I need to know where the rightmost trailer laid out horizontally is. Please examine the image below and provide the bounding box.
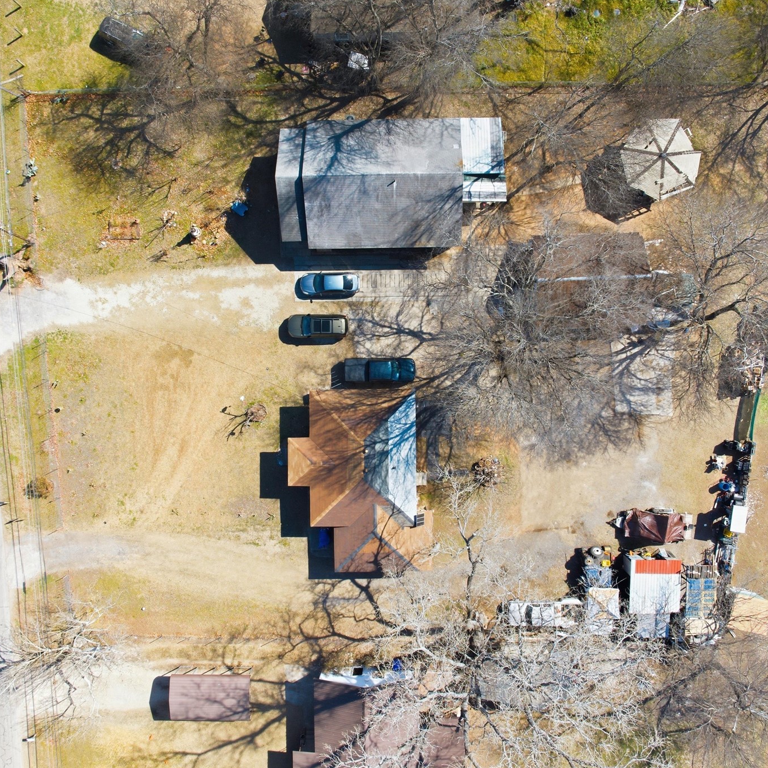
[615,514,686,548]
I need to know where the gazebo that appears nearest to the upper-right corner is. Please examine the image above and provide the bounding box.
[615,118,704,204]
